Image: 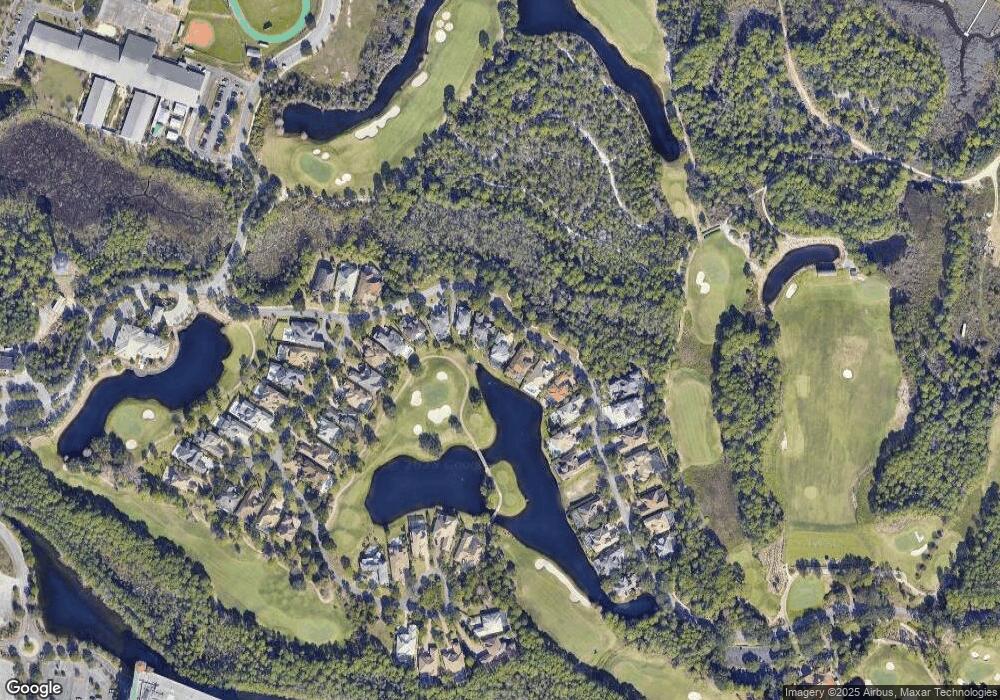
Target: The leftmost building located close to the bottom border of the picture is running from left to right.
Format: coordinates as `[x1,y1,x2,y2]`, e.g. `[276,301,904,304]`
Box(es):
[130,662,223,700]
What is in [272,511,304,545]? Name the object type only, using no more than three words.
house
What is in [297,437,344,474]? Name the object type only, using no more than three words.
house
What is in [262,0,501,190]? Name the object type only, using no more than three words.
golf course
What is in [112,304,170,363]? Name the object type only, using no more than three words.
building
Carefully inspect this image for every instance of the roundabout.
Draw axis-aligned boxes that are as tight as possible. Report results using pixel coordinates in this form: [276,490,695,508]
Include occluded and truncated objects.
[9,626,47,664]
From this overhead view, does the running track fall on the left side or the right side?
left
